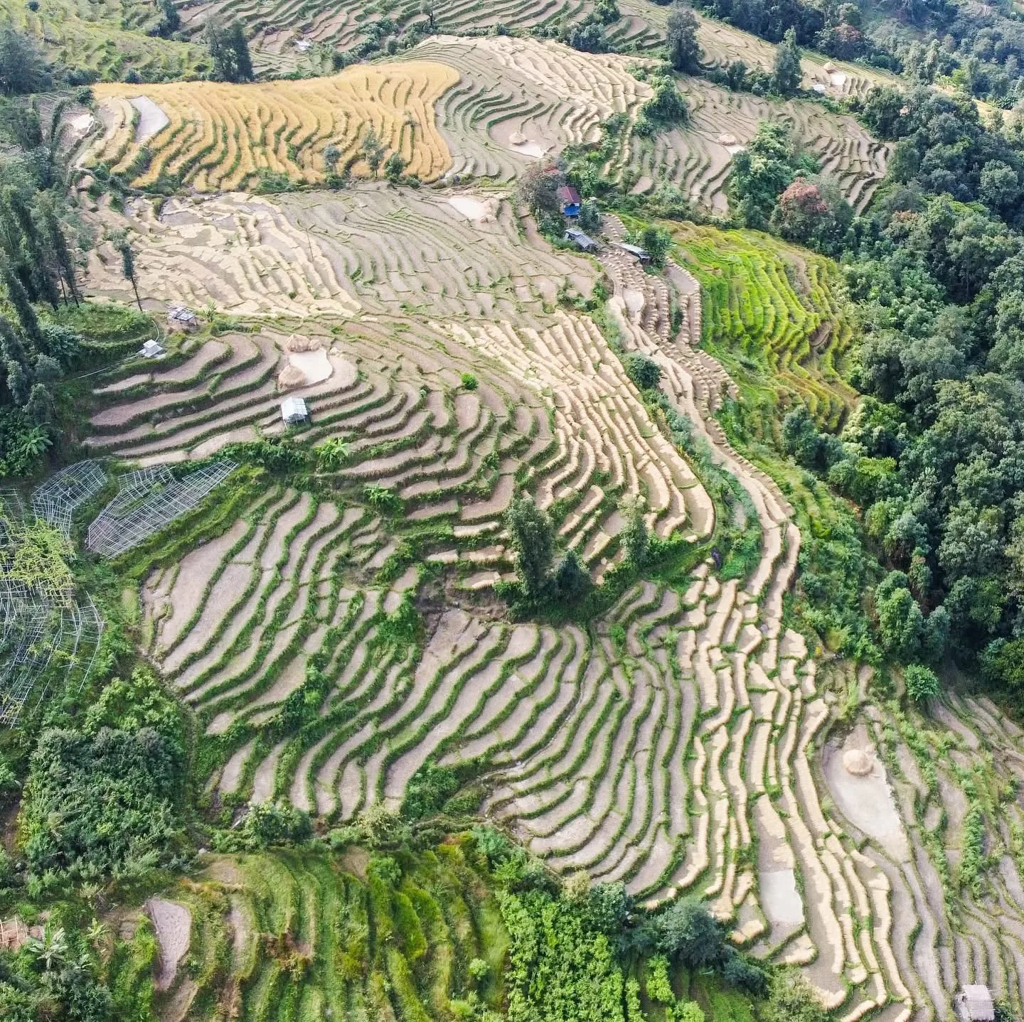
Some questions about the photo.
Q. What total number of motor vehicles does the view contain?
none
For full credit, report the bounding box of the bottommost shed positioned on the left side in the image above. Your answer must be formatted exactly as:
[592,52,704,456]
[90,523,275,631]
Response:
[278,398,306,433]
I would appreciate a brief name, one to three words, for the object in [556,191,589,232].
building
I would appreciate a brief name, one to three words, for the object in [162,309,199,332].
shed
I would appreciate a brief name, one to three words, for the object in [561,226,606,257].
shed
